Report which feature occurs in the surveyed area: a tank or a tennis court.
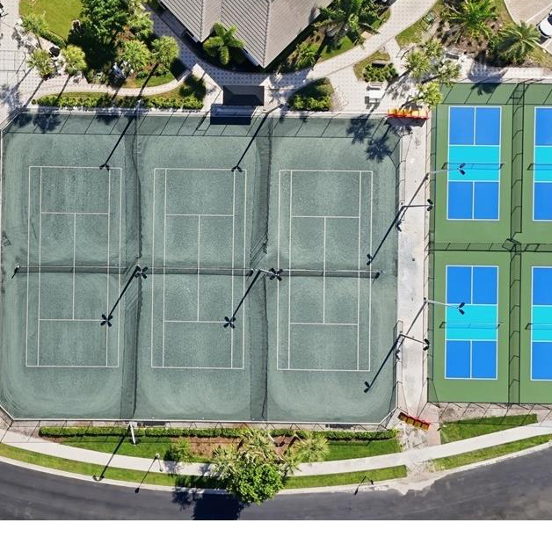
tennis court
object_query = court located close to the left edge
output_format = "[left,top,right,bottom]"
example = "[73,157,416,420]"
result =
[0,115,136,421]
